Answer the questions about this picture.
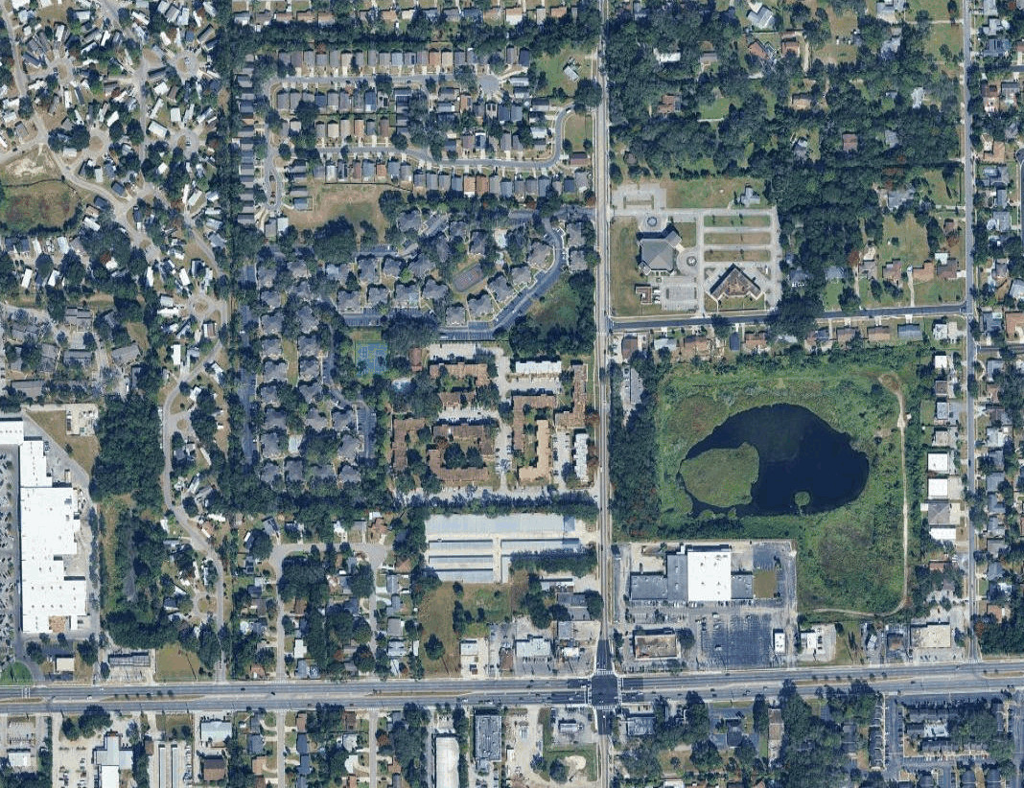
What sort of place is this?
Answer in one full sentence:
It's a residential area.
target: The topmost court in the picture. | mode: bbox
[451,263,485,293]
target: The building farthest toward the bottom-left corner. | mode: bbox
[8,753,31,767]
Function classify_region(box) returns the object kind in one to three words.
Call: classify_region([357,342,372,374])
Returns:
tennis court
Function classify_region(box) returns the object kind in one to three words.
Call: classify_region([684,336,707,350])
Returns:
house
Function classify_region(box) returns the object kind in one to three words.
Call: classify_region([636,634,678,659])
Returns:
building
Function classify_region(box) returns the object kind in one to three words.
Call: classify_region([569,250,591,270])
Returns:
building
